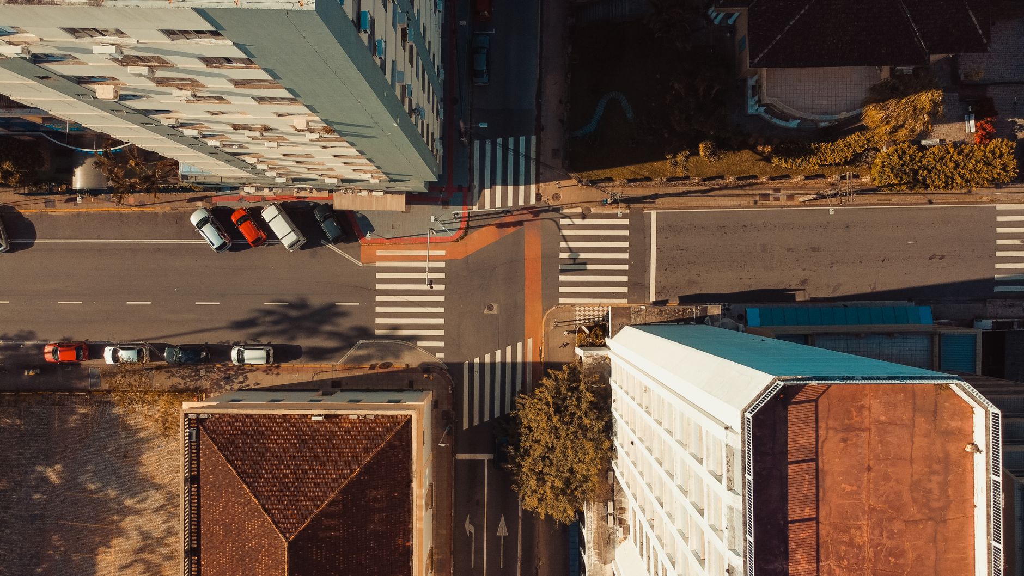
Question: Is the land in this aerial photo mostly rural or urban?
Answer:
urban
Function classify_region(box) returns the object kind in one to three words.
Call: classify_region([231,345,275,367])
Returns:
car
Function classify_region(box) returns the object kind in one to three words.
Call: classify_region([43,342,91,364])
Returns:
car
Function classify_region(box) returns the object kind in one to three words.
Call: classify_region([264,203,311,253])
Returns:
vehicle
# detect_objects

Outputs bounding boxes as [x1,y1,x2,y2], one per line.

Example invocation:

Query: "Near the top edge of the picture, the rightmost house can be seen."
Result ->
[704,0,993,133]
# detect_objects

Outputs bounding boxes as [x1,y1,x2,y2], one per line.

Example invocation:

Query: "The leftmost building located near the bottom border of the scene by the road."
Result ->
[180,392,435,576]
